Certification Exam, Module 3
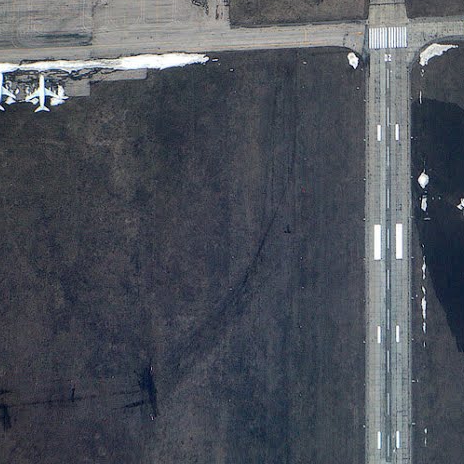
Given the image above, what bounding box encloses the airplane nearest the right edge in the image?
[25,73,59,112]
